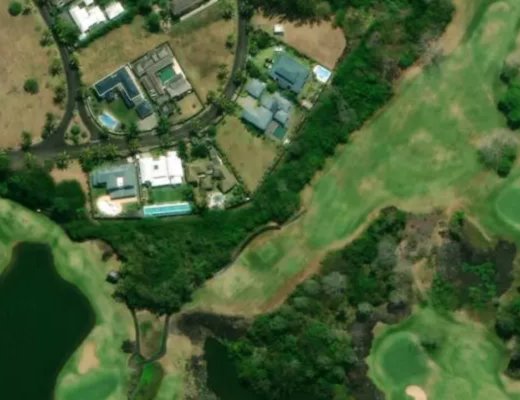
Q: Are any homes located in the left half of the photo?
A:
Yes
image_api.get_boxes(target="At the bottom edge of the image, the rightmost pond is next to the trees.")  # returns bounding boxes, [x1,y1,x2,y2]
[206,339,257,400]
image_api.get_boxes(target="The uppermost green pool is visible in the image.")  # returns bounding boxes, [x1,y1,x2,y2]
[156,64,176,83]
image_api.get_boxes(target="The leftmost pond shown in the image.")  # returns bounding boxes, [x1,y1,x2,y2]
[0,245,93,400]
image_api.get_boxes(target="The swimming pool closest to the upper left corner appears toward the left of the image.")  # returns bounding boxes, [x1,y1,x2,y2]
[100,111,119,129]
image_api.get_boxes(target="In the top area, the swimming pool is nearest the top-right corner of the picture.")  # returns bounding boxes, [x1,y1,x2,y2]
[313,65,331,82]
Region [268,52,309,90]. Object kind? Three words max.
house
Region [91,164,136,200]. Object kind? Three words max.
house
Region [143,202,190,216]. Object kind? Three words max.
swimming pool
